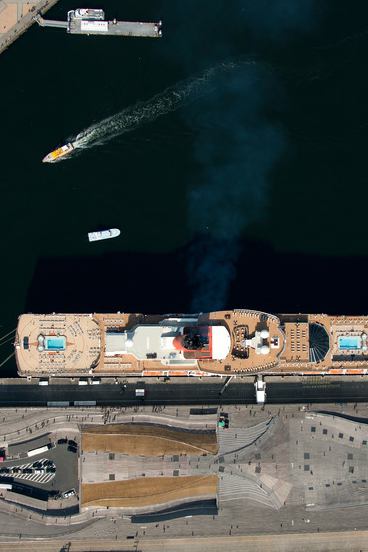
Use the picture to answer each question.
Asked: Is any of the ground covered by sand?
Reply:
No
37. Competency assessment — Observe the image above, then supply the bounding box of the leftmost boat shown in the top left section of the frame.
[42,141,74,160]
